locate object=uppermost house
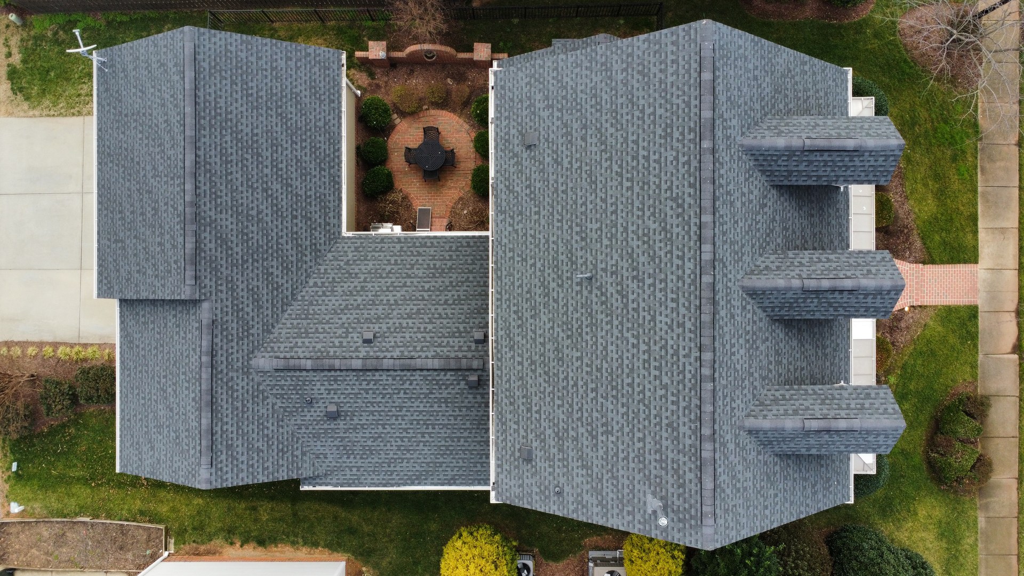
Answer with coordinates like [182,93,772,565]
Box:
[93,21,905,550]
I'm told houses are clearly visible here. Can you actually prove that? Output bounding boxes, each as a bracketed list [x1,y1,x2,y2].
[140,550,349,576]
[93,21,905,550]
